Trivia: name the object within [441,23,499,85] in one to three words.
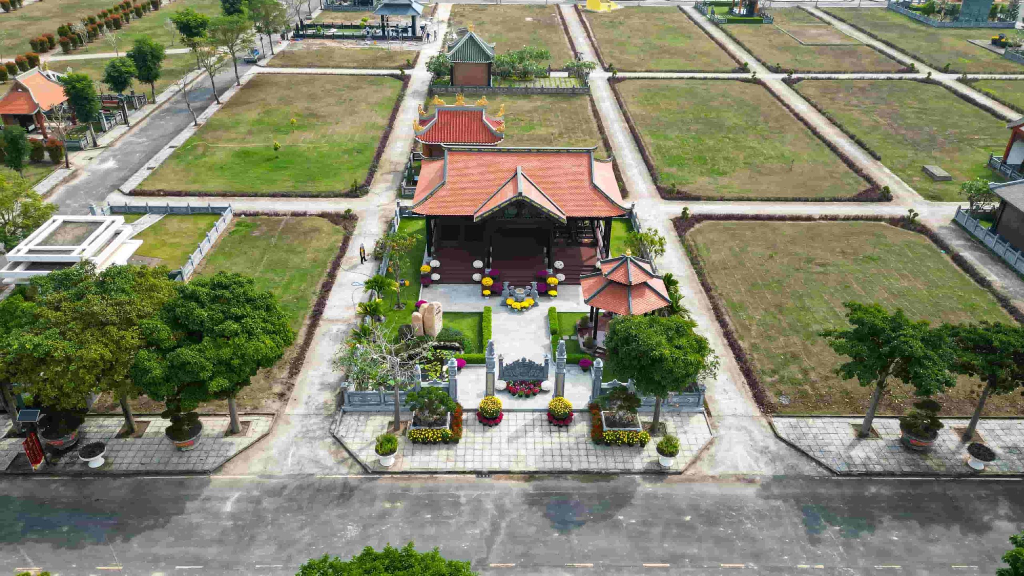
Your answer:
building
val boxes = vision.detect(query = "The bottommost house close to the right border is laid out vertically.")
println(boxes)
[989,175,1024,250]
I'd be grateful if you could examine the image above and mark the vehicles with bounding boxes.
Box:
[243,46,262,61]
